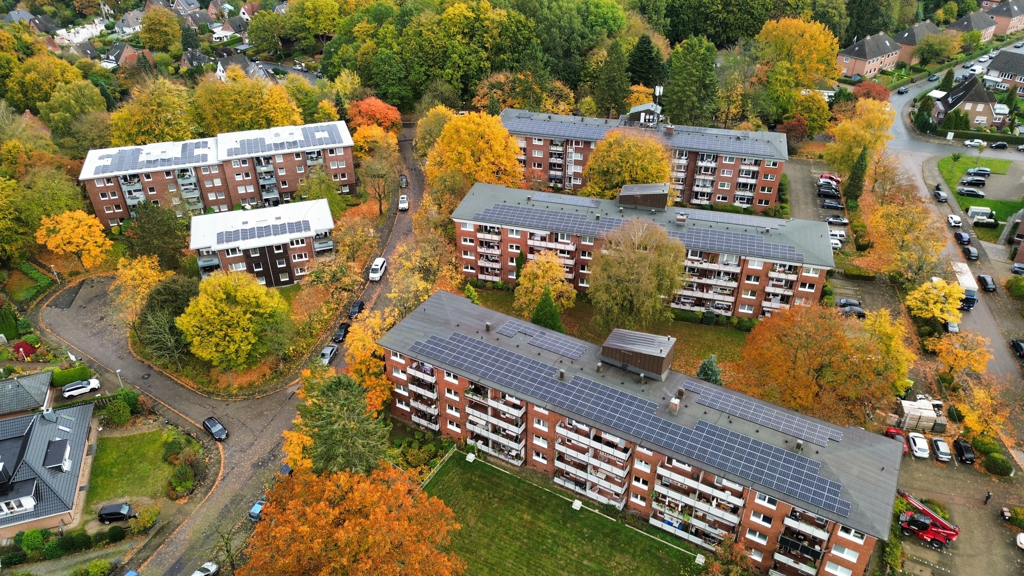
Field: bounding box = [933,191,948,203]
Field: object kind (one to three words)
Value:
vehicle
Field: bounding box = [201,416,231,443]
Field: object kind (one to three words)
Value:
car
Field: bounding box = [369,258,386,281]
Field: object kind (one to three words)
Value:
vehicle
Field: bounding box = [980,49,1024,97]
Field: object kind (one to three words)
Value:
house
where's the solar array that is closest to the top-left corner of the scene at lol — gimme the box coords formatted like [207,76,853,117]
[93,142,208,175]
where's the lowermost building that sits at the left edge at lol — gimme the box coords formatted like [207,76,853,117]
[0,401,95,542]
